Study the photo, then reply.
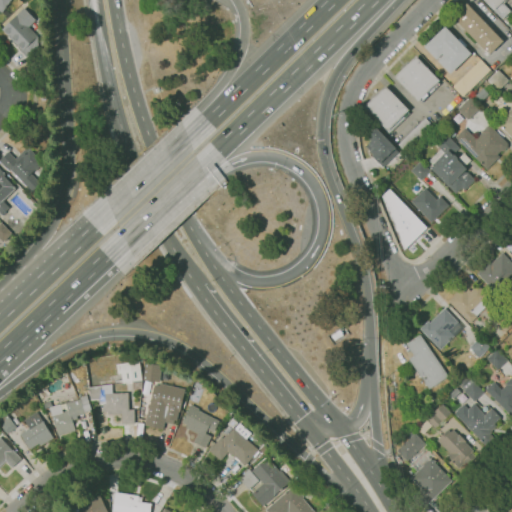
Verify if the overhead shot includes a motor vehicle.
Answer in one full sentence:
Yes, a motor vehicle is visible in the scene.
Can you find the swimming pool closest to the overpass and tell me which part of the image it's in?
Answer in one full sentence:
You can find the swimming pool closest to the overpass in the left area of the picture.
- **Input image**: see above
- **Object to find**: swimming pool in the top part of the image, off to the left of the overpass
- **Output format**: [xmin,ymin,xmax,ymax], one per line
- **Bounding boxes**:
[10,194,30,216]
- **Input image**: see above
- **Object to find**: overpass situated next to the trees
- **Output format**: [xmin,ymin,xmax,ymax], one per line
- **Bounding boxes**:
[84,108,236,274]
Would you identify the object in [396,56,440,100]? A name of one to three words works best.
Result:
building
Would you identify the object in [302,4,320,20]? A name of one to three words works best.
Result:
vehicle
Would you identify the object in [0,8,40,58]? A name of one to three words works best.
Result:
house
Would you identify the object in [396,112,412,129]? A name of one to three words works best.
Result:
vehicle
